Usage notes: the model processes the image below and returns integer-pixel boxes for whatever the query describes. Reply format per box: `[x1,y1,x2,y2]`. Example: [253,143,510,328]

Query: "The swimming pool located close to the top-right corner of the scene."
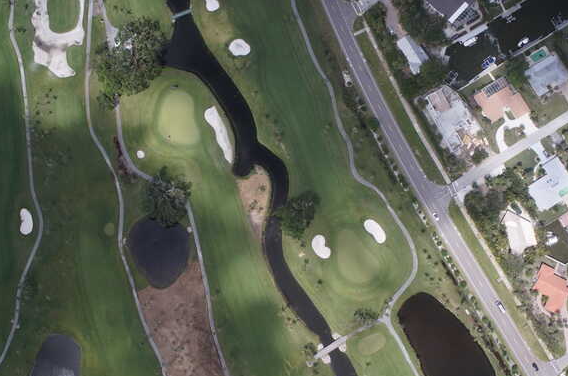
[527,47,550,63]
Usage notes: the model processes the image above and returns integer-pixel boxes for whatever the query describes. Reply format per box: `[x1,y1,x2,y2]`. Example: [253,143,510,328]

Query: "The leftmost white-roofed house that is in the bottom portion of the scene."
[501,210,536,255]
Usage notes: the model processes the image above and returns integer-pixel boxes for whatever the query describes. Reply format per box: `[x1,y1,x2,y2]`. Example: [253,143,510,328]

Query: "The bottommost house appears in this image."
[532,264,568,312]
